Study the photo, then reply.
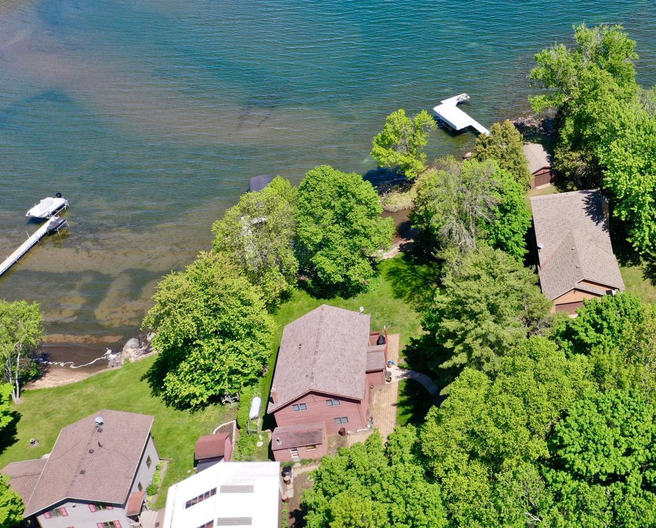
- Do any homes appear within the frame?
Yes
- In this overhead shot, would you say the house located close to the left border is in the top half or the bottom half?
bottom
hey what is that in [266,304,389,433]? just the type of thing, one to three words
house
